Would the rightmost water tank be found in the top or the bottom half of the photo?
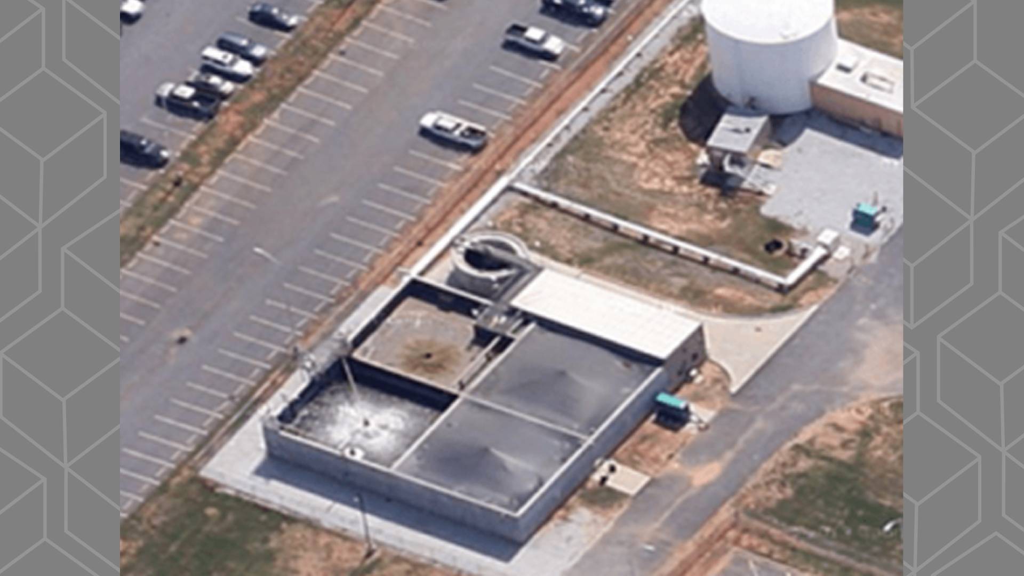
top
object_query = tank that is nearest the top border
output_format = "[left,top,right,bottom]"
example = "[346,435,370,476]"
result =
[696,0,835,119]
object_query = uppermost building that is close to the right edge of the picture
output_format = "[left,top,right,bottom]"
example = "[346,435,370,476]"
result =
[811,42,1024,179]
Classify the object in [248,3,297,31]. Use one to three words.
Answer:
car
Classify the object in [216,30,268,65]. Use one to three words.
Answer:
car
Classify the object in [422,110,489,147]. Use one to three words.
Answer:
truck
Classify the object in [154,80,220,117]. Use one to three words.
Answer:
truck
